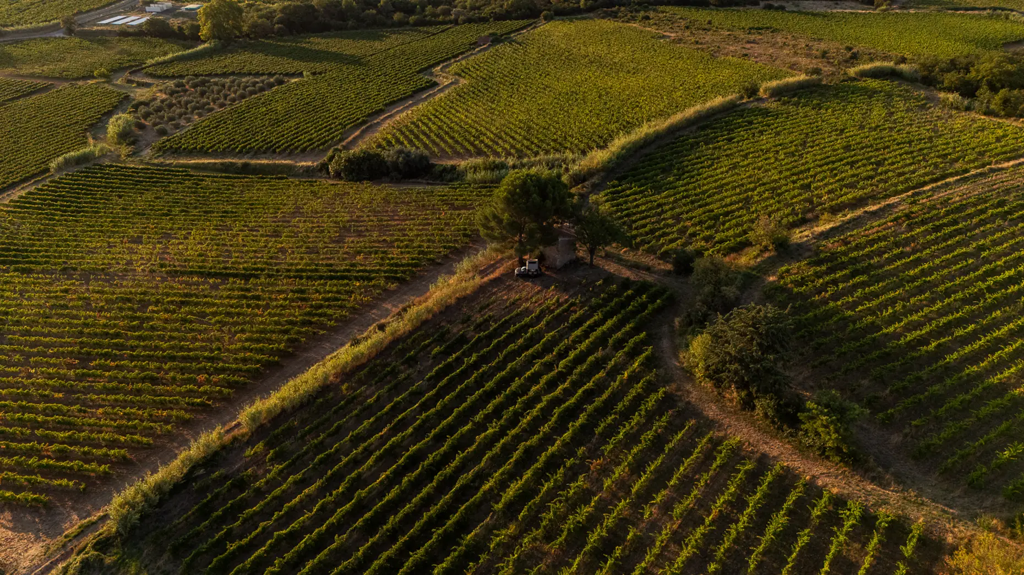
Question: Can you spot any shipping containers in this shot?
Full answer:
No, no shipping container can be seen from above.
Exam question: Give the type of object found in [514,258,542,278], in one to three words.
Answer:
vehicle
